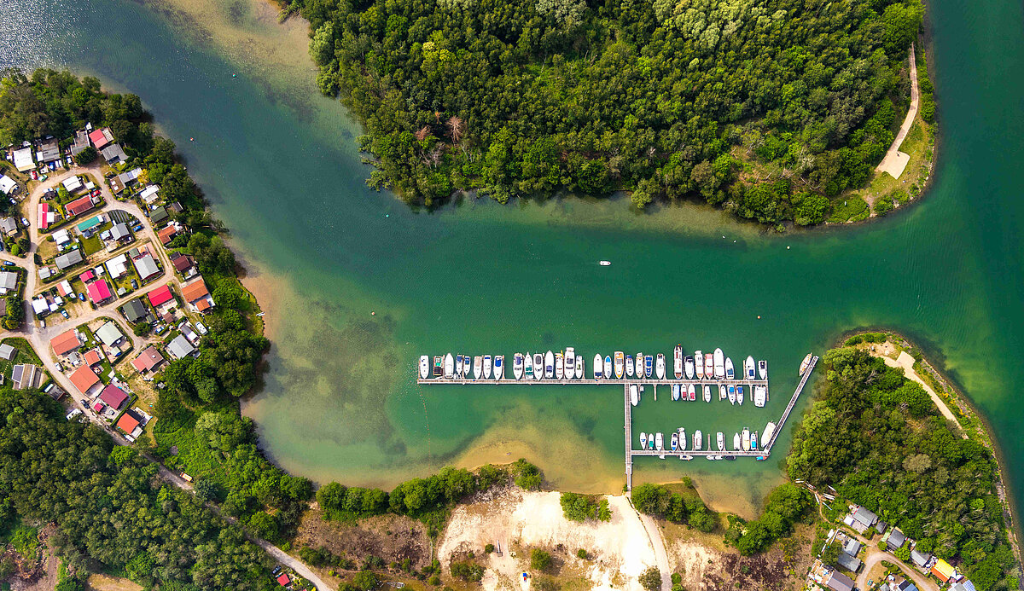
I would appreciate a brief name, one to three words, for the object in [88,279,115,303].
building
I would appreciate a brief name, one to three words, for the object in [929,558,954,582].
house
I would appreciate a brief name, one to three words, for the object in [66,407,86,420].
vehicle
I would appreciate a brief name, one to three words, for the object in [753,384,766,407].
boat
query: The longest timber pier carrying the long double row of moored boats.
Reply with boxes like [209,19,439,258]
[417,356,771,400]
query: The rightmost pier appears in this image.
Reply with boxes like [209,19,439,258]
[763,355,819,452]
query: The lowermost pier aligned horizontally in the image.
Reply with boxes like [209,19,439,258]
[631,433,771,456]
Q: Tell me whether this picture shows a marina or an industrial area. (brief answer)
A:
marina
